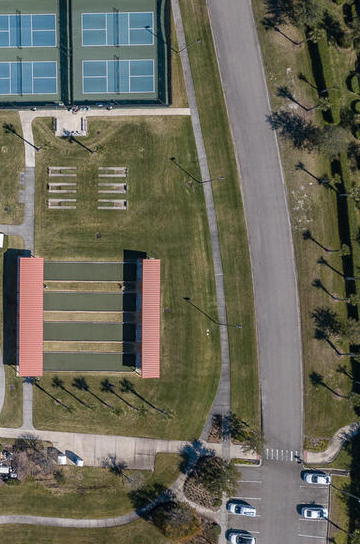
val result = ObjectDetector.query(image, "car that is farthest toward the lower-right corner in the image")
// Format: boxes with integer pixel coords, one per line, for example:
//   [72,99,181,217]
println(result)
[301,506,327,519]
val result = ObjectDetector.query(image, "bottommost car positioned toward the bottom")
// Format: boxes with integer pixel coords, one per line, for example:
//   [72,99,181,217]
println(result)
[228,532,256,544]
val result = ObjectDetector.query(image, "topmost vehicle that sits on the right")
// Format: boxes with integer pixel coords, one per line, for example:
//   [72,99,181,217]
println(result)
[303,472,329,485]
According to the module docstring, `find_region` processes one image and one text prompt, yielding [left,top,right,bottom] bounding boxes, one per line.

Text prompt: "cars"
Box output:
[228,532,256,544]
[303,472,329,485]
[301,506,327,519]
[228,502,256,516]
